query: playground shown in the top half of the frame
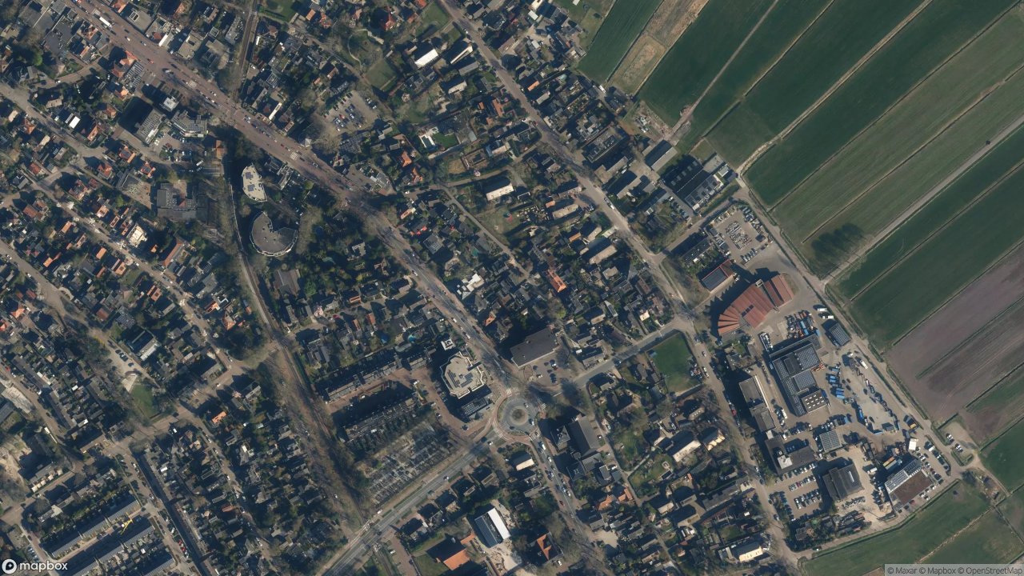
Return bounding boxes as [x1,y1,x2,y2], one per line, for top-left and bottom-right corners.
[474,206,518,246]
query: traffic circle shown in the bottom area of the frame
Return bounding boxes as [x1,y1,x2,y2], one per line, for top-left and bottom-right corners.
[489,385,548,444]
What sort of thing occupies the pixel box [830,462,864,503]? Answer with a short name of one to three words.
building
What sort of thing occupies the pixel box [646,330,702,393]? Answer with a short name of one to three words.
sports field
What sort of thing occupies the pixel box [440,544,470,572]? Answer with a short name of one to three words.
house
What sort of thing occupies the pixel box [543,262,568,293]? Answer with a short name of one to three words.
house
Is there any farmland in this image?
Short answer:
Yes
